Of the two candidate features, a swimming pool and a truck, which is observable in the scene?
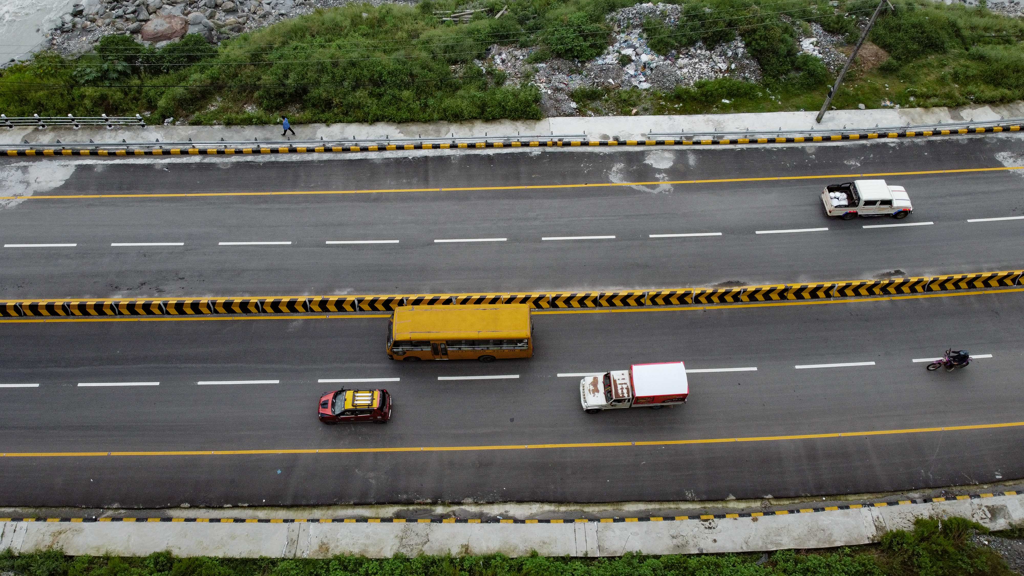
truck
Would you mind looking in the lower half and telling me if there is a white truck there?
Yes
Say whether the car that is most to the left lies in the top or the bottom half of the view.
bottom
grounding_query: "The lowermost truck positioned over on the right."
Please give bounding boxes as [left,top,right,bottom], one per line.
[578,361,690,413]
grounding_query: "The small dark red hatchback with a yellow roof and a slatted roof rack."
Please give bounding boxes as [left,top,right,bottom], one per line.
[315,381,395,426]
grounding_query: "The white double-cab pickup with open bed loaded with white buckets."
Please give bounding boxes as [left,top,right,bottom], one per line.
[815,179,916,219]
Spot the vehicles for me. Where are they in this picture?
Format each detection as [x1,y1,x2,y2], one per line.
[578,361,690,413]
[815,179,916,219]
[315,381,395,426]
[383,304,536,362]
[925,349,977,371]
